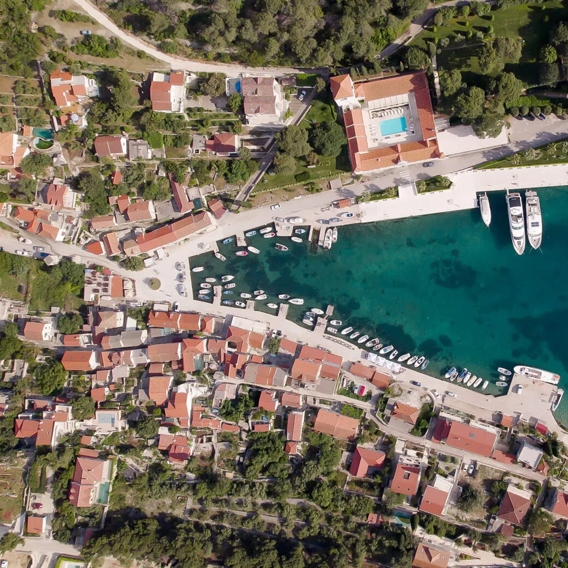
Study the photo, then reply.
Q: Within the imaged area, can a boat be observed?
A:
Yes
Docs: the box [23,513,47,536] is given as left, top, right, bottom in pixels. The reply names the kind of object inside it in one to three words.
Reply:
building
